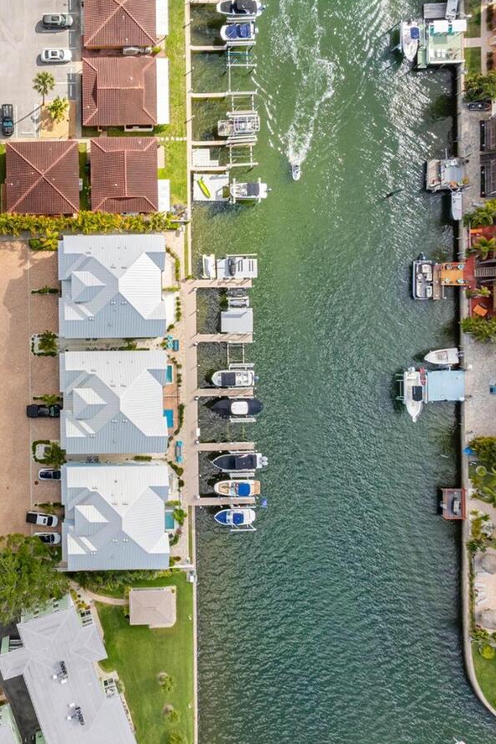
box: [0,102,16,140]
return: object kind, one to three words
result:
vehicle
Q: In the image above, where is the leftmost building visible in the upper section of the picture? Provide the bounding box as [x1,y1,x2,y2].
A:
[4,139,80,215]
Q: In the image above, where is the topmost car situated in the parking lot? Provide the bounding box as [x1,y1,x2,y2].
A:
[42,15,72,31]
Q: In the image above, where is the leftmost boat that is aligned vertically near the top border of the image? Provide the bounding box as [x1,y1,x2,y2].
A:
[401,16,419,60]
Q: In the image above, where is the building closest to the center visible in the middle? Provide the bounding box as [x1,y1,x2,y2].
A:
[216,309,253,332]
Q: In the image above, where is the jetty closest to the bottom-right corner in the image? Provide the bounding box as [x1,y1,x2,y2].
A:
[437,486,466,520]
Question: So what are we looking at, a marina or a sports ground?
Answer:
marina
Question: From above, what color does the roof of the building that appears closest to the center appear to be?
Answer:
white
